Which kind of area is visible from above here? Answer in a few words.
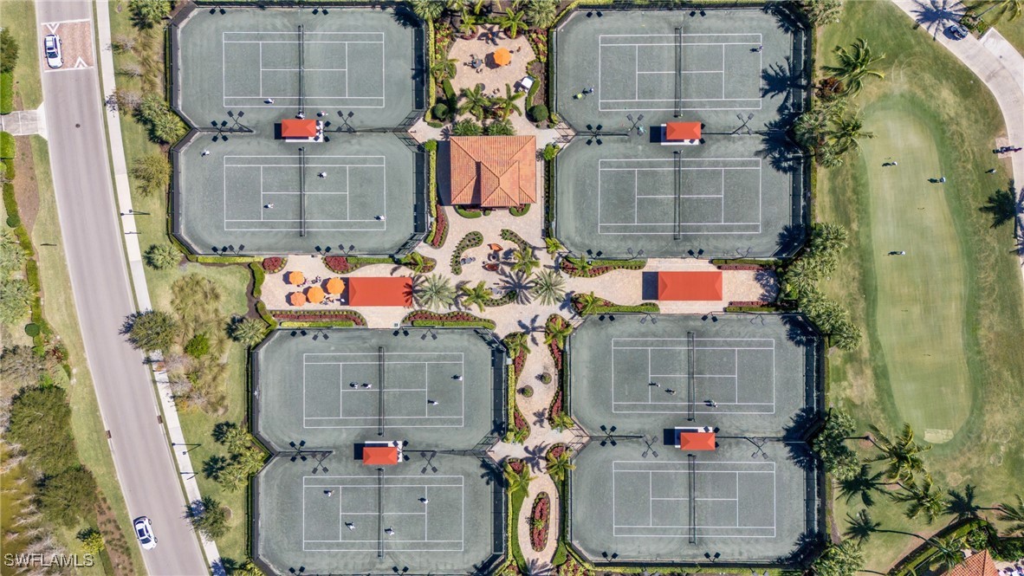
sports ground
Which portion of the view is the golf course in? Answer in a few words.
right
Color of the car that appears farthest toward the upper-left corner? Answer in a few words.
white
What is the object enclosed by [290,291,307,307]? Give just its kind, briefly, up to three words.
umbrella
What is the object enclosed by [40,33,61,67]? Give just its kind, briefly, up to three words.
car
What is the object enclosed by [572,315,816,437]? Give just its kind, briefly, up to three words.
tennis court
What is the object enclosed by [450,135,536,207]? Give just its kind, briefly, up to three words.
building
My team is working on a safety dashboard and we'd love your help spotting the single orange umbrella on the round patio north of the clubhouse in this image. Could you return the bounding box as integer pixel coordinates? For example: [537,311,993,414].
[494,50,510,66]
